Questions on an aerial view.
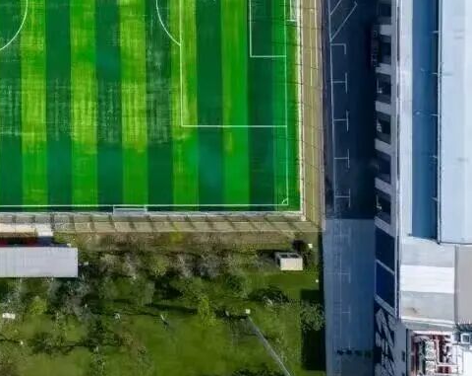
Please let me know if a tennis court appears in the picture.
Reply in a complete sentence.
No, the frame has no tennis court in it.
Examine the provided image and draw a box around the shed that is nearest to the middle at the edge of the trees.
[272,248,303,269]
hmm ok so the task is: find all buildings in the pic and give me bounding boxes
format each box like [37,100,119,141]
[0,241,78,277]
[372,0,472,323]
[272,248,303,269]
